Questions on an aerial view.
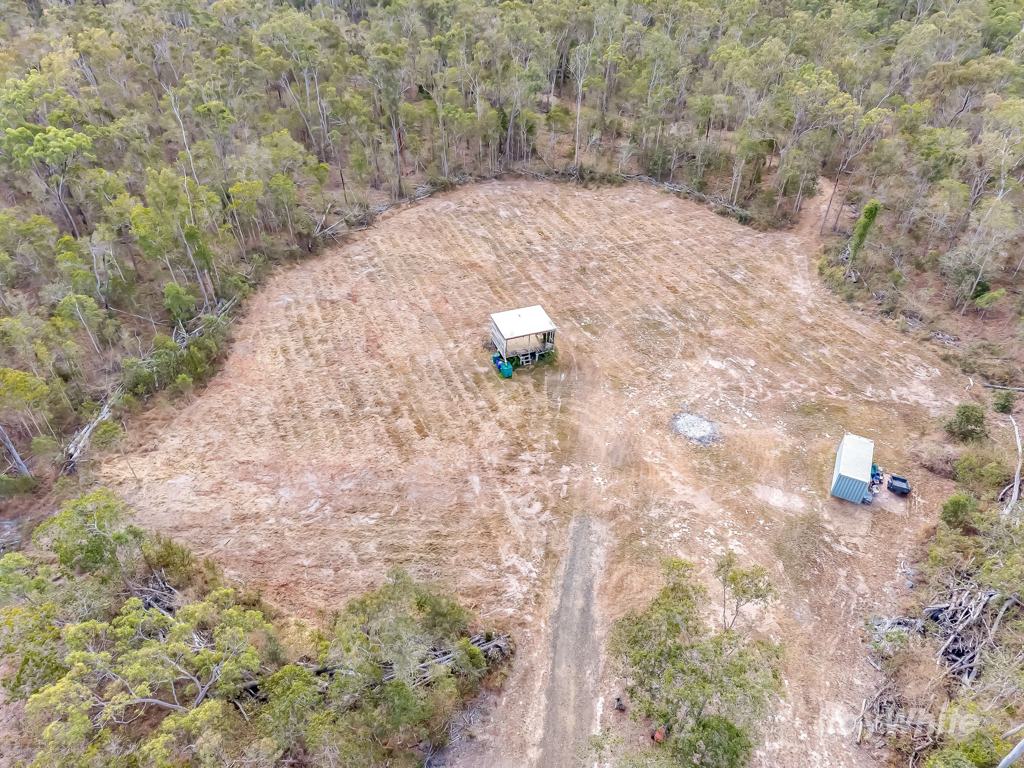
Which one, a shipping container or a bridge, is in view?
shipping container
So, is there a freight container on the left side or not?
No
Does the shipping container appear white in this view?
Yes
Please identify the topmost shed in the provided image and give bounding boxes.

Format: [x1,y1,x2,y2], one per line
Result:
[490,305,557,365]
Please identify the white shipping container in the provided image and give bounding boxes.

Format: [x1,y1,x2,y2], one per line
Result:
[830,432,874,504]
